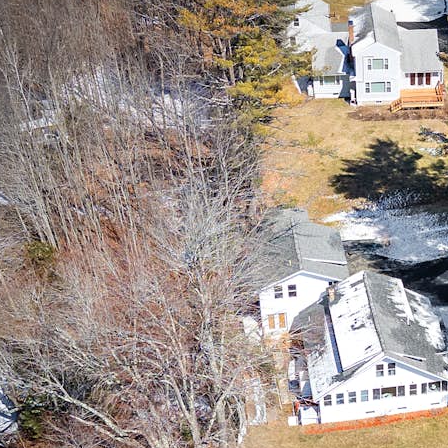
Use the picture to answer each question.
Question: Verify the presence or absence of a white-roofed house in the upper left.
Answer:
No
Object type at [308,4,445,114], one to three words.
house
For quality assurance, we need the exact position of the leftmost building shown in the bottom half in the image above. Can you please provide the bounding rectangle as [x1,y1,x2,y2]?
[253,203,349,340]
